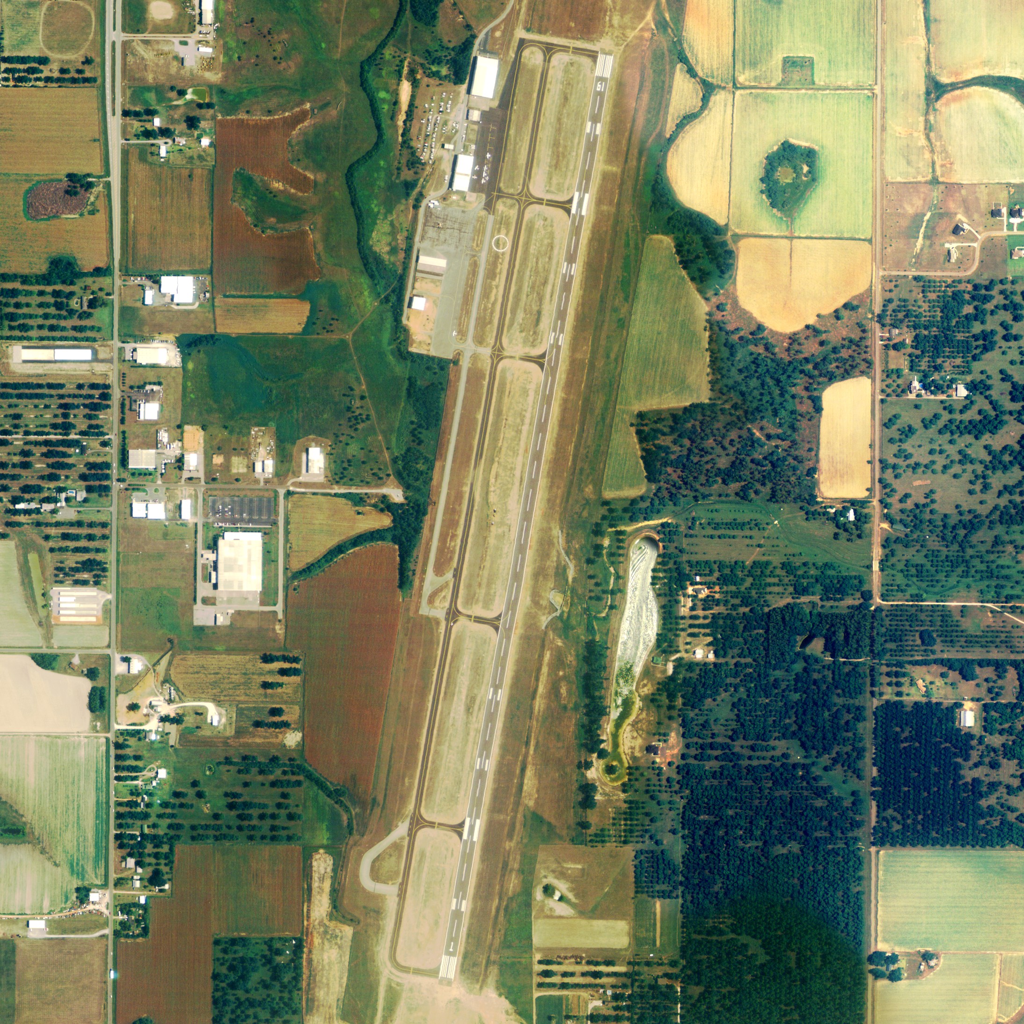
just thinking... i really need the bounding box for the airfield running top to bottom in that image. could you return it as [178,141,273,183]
[360,38,613,988]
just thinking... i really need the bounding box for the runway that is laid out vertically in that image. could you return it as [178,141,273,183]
[439,51,613,983]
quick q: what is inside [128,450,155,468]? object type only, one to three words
building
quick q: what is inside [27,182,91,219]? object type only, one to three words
pond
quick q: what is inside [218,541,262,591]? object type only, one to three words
building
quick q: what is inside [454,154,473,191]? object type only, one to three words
hangar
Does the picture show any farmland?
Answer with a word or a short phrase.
Yes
